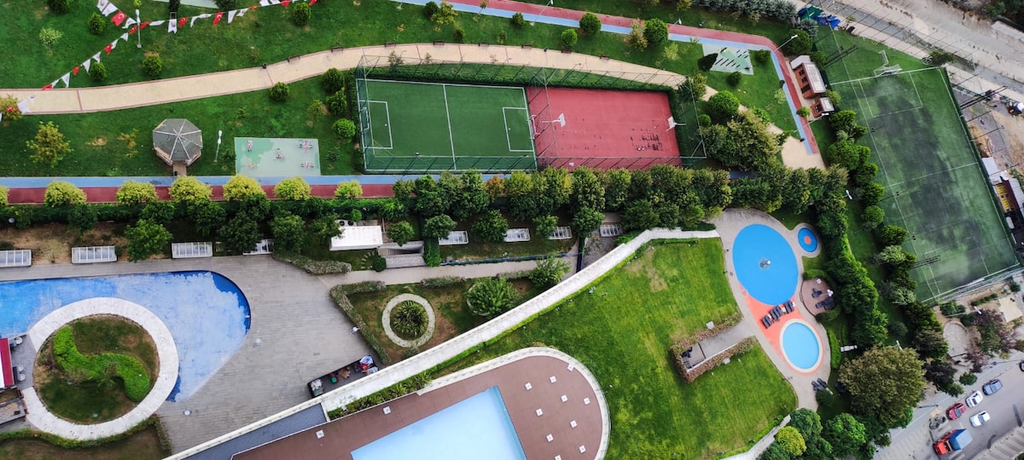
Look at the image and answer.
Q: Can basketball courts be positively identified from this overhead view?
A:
Yes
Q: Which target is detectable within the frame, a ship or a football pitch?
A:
football pitch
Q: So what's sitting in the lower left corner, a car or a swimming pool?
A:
swimming pool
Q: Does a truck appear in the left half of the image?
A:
No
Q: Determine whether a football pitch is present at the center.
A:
No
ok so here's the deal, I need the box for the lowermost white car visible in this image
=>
[969,412,991,427]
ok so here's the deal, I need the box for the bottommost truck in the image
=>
[937,431,977,455]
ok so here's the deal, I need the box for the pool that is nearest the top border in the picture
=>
[797,224,820,254]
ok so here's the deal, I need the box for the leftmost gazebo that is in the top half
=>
[152,120,202,164]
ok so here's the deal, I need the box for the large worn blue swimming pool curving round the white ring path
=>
[0,271,251,403]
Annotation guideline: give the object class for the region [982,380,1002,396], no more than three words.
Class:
car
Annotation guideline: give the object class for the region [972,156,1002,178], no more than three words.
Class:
shed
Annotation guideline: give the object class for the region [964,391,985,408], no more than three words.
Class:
car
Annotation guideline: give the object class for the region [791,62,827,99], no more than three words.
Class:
shed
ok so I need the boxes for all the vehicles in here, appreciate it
[945,404,968,420]
[969,412,991,427]
[982,380,1002,396]
[937,431,977,455]
[964,391,985,408]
